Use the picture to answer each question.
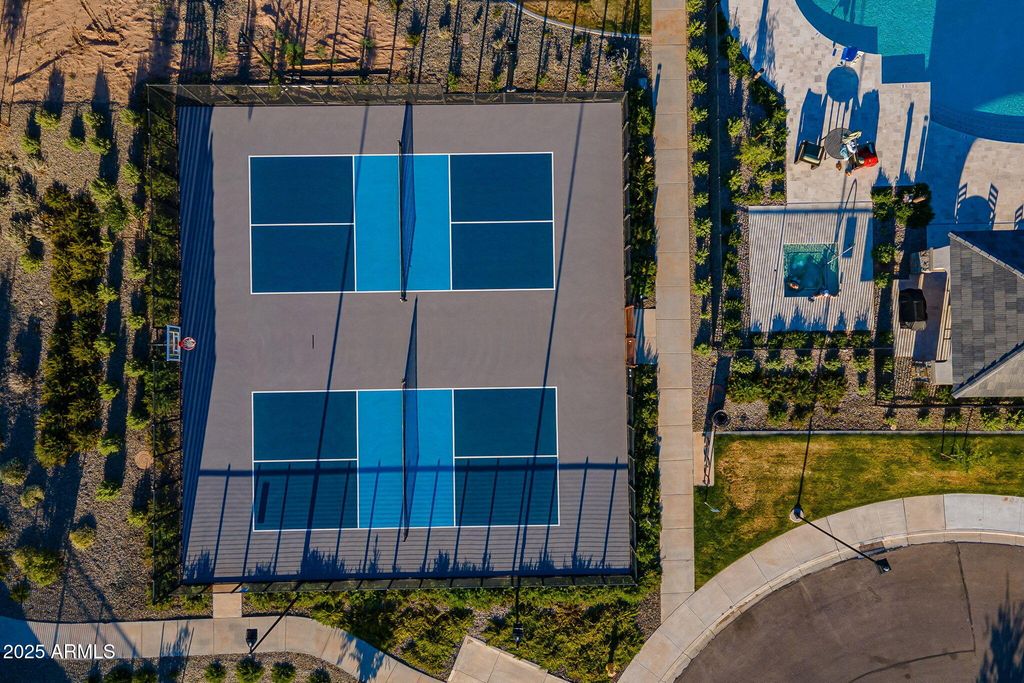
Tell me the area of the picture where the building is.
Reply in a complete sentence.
The building appears toward the right of the photo.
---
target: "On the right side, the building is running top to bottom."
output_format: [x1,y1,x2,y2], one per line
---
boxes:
[948,232,1024,399]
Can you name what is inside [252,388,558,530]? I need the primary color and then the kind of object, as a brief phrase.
blue sports court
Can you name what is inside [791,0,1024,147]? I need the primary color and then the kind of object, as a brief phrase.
blue swimming pool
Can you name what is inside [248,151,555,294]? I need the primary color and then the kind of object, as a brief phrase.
blue sports court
